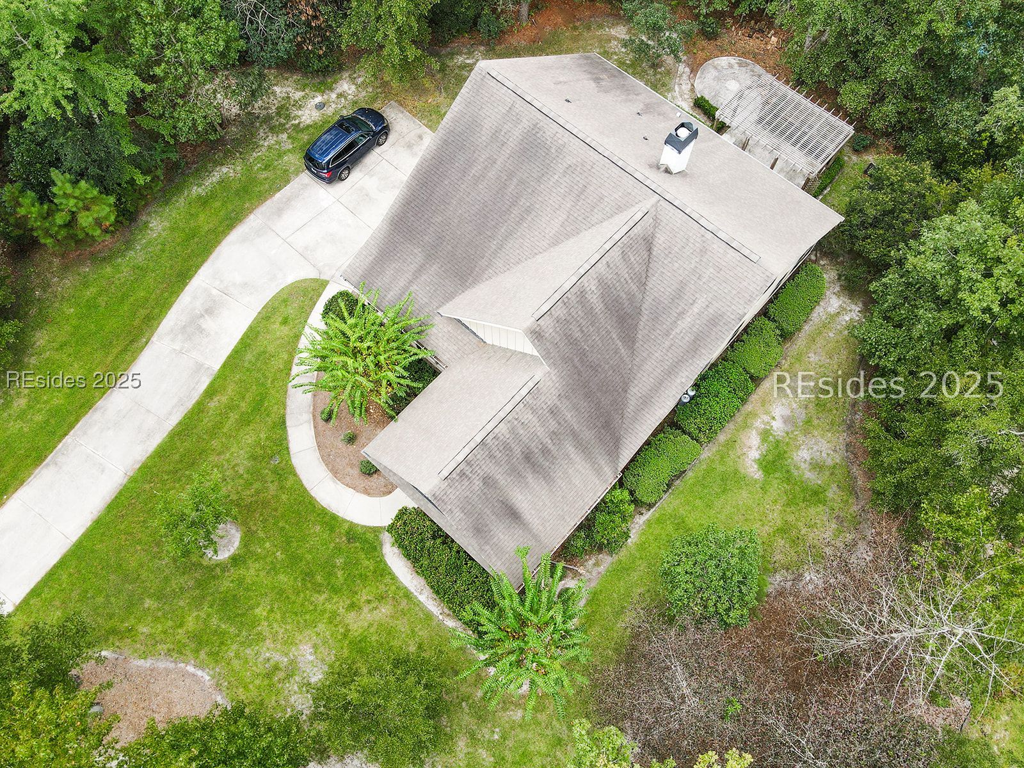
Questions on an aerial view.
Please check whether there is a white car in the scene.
No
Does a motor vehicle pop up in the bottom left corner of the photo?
No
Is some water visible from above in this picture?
No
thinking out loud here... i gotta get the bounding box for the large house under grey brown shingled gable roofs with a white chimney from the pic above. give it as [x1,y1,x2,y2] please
[339,51,844,594]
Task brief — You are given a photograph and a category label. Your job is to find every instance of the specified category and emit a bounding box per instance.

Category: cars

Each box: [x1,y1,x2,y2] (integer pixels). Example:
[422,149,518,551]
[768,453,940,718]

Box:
[297,103,389,187]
